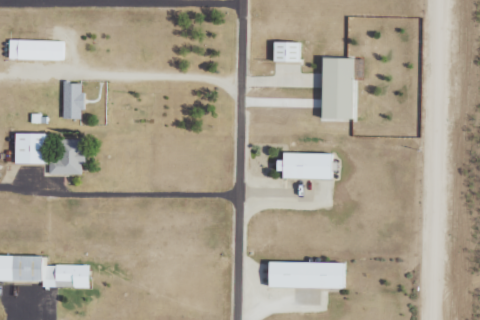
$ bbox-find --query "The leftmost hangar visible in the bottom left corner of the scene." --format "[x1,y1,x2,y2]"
[0,256,47,285]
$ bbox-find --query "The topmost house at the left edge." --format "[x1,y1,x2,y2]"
[8,40,65,61]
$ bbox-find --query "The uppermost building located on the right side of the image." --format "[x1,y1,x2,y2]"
[274,42,304,66]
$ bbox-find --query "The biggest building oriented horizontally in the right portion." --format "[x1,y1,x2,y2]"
[268,262,347,290]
